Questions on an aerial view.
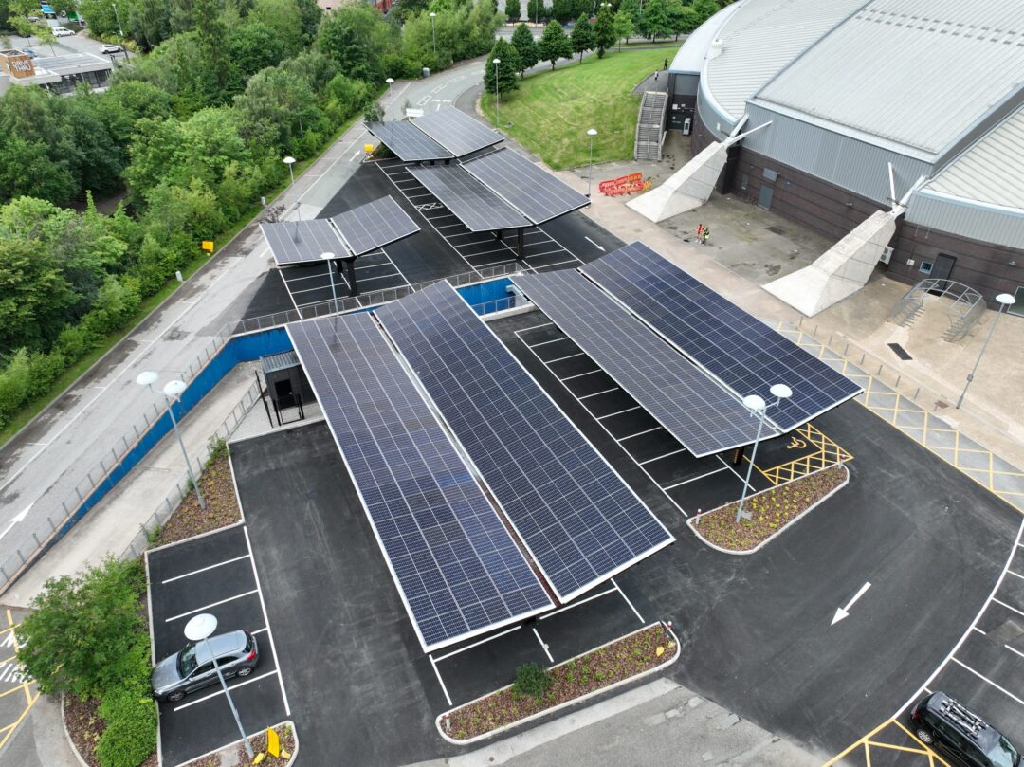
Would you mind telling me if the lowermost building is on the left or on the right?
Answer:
left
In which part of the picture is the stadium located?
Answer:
top right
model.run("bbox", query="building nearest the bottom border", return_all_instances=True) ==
[254,347,317,411]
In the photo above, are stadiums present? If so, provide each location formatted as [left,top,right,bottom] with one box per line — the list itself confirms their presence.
[665,0,1024,317]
